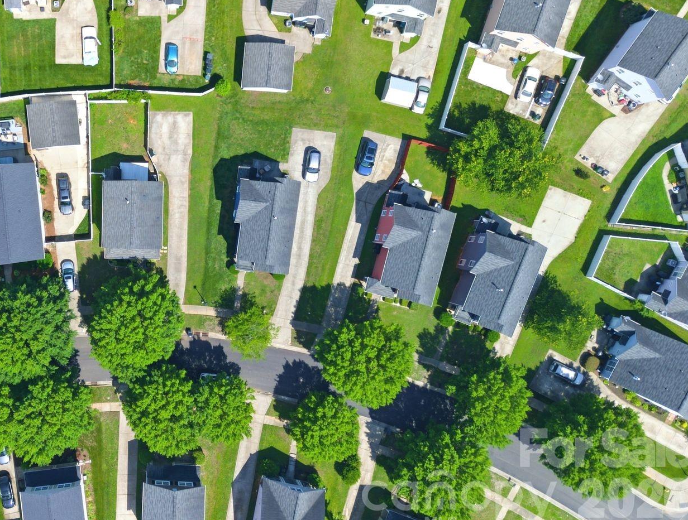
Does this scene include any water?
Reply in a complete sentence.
No, the picture contains no water.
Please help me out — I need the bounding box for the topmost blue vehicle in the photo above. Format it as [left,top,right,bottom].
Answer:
[164,42,179,75]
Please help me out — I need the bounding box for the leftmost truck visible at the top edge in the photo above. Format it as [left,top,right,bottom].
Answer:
[82,26,103,66]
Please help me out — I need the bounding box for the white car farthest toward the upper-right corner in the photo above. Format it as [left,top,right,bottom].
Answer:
[516,65,541,104]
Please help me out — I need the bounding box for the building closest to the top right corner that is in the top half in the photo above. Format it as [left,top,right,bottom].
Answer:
[586,7,688,104]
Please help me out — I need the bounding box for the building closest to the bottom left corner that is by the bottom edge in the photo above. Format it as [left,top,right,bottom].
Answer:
[19,461,87,520]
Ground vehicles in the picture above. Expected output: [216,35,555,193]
[0,472,16,508]
[164,42,179,75]
[0,436,11,463]
[56,174,74,215]
[304,148,321,182]
[59,259,76,292]
[355,137,378,179]
[547,360,584,385]
[82,26,103,66]
[412,77,431,113]
[516,65,541,104]
[533,74,557,109]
